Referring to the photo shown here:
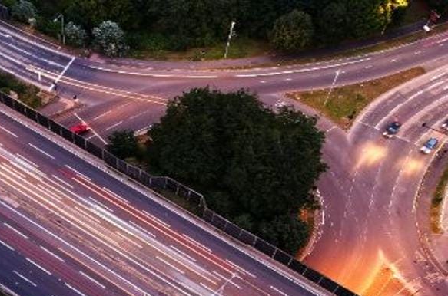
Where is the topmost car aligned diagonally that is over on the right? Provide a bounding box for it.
[384,118,401,138]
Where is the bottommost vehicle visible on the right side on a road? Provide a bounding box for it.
[421,136,439,154]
